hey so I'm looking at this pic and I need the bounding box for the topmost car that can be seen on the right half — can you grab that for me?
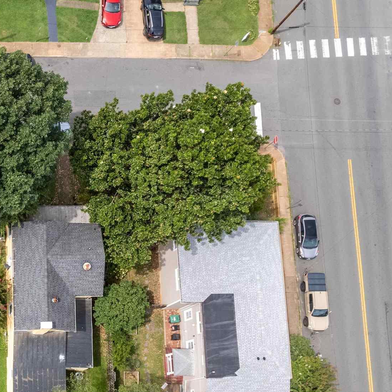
[292,214,321,261]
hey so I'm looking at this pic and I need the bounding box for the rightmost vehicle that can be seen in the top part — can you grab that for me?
[140,0,165,43]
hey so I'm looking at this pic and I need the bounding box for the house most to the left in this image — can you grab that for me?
[3,206,108,392]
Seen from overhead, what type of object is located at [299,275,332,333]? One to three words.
truck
